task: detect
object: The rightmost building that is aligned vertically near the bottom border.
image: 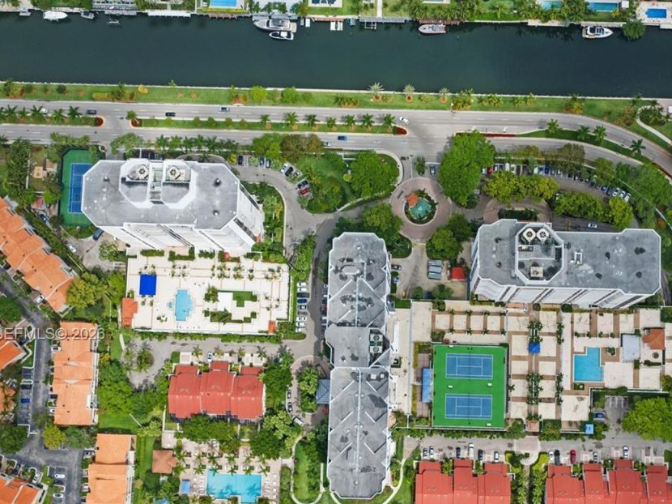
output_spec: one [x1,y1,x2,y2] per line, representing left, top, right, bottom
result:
[328,366,393,499]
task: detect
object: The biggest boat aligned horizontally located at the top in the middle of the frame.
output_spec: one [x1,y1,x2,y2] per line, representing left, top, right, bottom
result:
[252,16,298,32]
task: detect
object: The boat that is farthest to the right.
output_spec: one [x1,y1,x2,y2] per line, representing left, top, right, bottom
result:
[581,26,614,38]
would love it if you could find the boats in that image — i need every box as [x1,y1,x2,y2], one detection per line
[81,12,95,20]
[252,16,298,32]
[44,11,69,20]
[20,10,32,17]
[418,24,446,33]
[581,26,614,38]
[269,31,295,40]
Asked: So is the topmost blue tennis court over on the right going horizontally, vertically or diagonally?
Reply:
horizontally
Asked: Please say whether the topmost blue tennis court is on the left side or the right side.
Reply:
left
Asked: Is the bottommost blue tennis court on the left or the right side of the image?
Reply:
right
